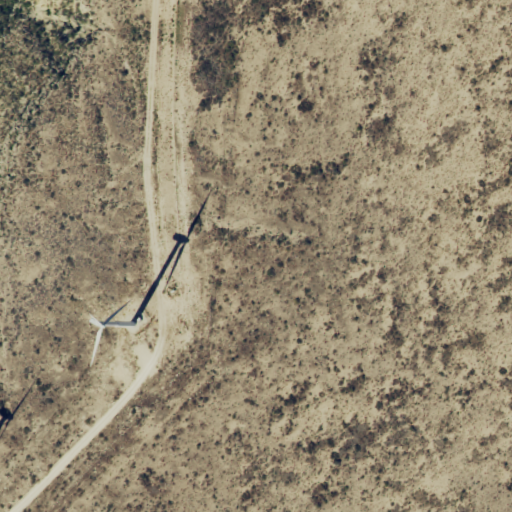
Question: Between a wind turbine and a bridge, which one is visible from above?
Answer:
wind turbine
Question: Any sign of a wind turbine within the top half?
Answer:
No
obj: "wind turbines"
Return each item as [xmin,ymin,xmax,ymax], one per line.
[90,300,138,366]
